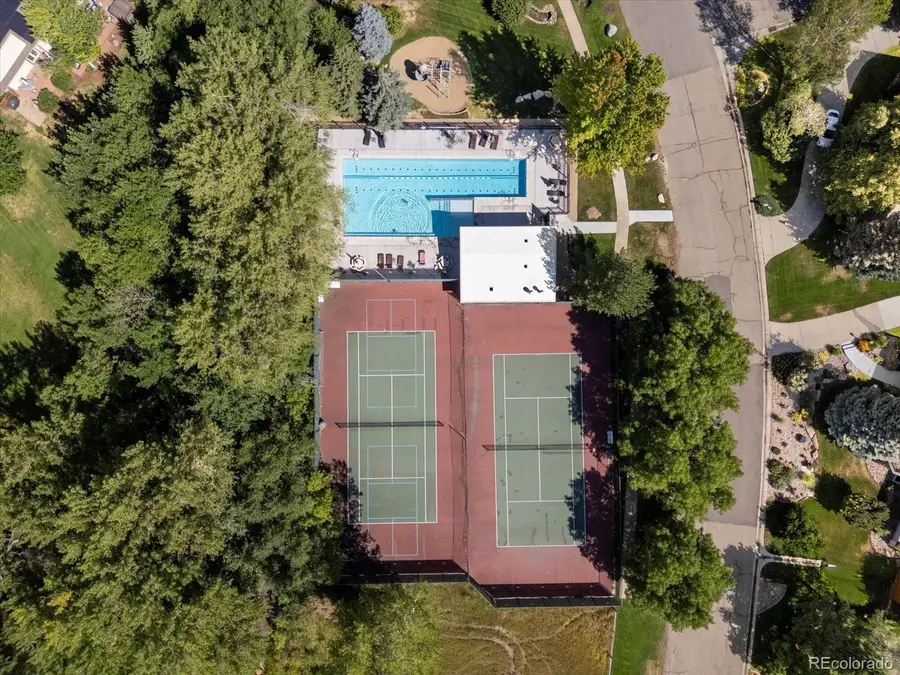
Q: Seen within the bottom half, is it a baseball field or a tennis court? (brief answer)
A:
tennis court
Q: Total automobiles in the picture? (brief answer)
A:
one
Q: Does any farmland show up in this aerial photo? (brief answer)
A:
No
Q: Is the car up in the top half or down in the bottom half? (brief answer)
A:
top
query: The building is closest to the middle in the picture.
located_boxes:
[460,227,557,304]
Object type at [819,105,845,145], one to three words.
car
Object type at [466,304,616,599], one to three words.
tennis court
